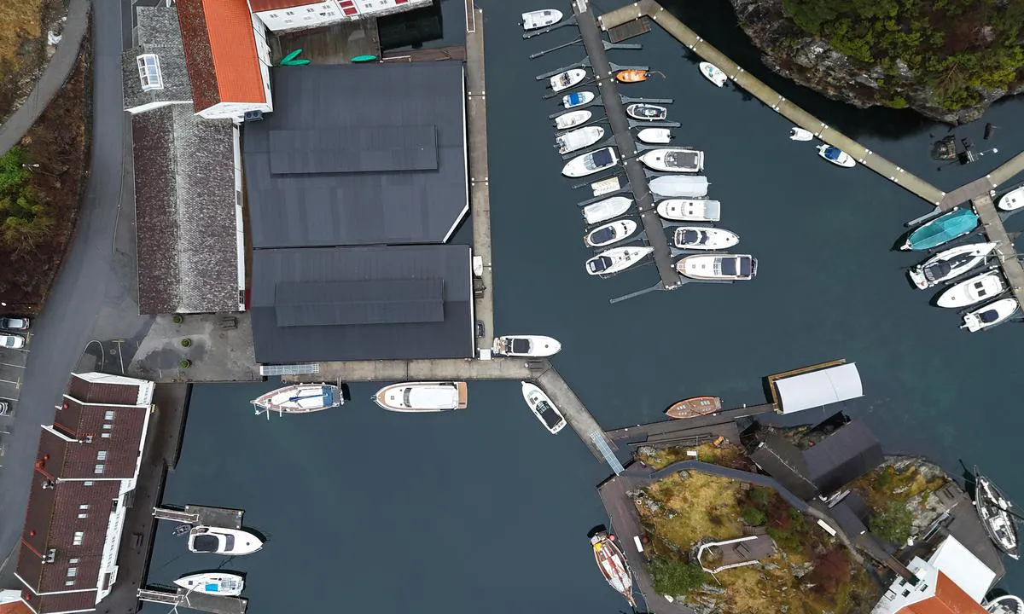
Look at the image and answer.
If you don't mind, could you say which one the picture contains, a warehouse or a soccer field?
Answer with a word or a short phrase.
warehouse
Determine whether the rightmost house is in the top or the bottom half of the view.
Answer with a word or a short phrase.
bottom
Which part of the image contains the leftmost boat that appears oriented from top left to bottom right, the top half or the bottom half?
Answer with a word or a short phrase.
bottom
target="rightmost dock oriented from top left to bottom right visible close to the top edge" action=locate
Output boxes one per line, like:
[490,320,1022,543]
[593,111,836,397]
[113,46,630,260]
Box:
[652,6,944,205]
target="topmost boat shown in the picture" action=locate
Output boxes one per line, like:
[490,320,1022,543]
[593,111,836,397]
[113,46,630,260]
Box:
[518,7,577,29]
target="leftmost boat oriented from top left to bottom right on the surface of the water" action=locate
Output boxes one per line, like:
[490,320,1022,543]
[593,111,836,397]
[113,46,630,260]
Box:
[520,380,565,433]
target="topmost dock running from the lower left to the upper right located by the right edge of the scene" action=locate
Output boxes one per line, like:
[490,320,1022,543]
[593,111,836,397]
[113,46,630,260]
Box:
[985,151,1024,185]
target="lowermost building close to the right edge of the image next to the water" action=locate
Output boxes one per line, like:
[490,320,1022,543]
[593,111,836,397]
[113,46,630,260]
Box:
[870,531,996,614]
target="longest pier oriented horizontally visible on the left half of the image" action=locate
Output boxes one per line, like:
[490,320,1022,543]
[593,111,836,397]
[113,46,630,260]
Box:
[284,358,534,382]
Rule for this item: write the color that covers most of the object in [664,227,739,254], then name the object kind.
white boat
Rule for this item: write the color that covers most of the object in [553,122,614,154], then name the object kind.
white boat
